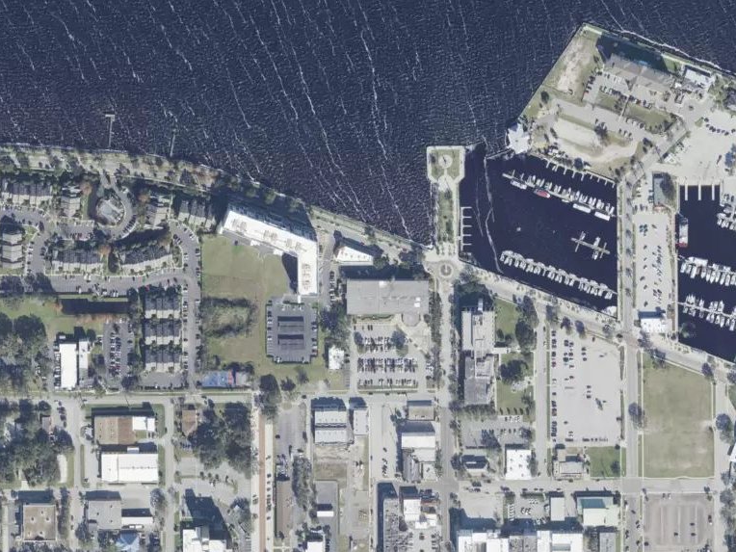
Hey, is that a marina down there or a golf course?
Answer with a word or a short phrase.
marina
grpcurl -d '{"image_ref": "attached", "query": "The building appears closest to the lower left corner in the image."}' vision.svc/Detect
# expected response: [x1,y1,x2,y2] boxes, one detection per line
[24,502,56,541]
